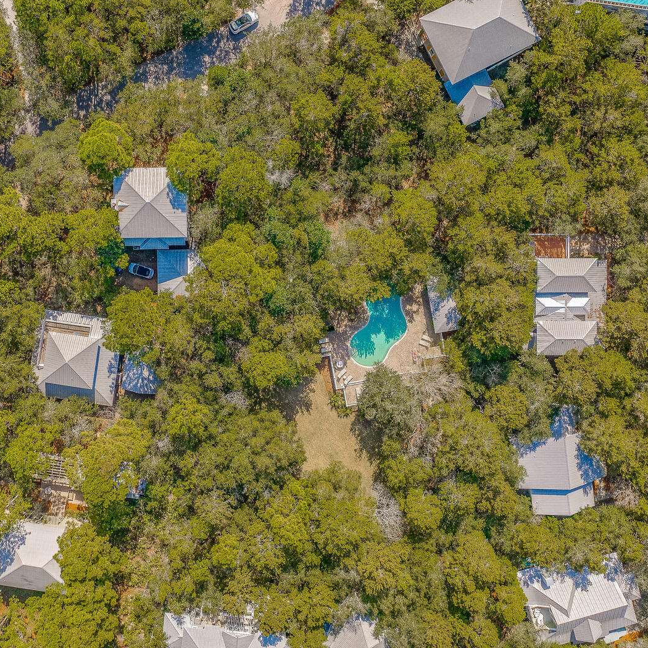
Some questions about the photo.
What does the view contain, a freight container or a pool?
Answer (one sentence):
Of the two, only a pool appears.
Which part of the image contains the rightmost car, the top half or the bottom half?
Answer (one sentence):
It is in the top half that the rightmost car appears.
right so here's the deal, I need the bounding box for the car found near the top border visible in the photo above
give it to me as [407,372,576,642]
[230,10,260,31]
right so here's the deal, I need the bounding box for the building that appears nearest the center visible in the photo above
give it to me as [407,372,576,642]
[424,276,458,333]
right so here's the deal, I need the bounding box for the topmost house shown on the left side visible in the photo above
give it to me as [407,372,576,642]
[110,167,190,249]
